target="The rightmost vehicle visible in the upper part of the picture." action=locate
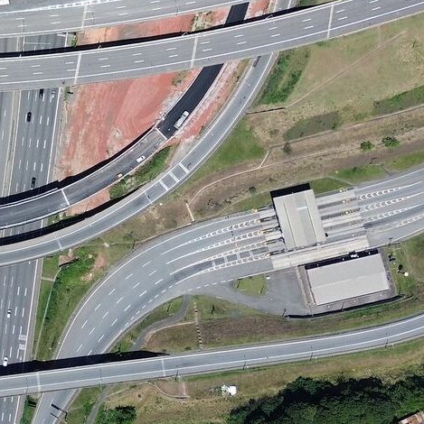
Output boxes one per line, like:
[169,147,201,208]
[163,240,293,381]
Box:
[174,110,189,128]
